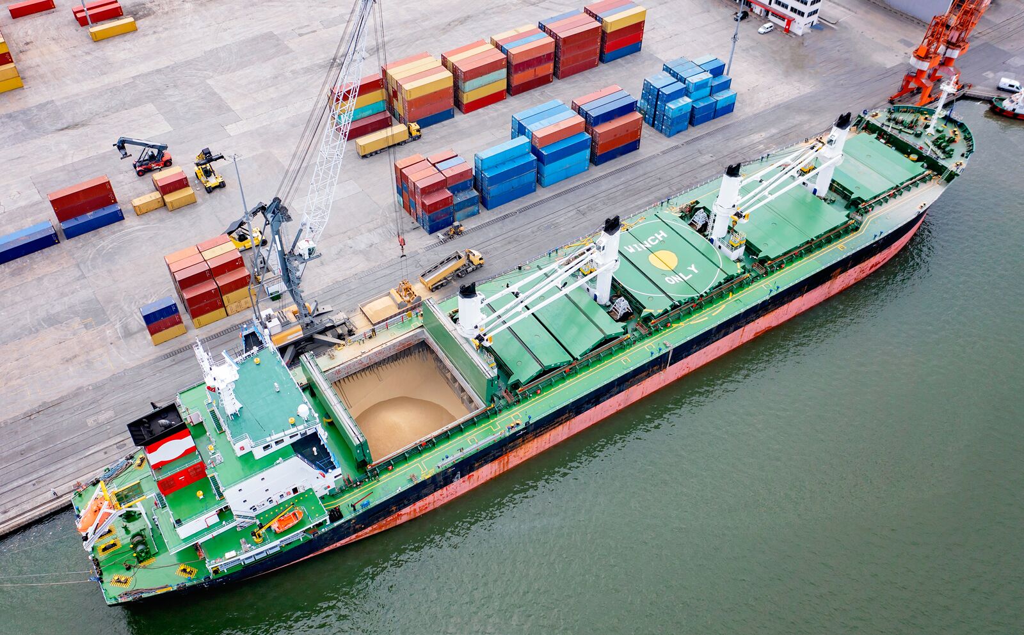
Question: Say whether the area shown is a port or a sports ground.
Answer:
port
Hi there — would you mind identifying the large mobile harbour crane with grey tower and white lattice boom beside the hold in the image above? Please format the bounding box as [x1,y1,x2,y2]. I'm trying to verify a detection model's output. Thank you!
[235,0,398,370]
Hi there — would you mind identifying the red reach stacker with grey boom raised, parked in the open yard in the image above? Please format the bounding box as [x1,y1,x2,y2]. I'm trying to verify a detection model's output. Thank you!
[119,144,171,176]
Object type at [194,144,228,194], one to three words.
work vehicle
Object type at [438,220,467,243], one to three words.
work vehicle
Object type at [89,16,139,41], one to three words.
shipping container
